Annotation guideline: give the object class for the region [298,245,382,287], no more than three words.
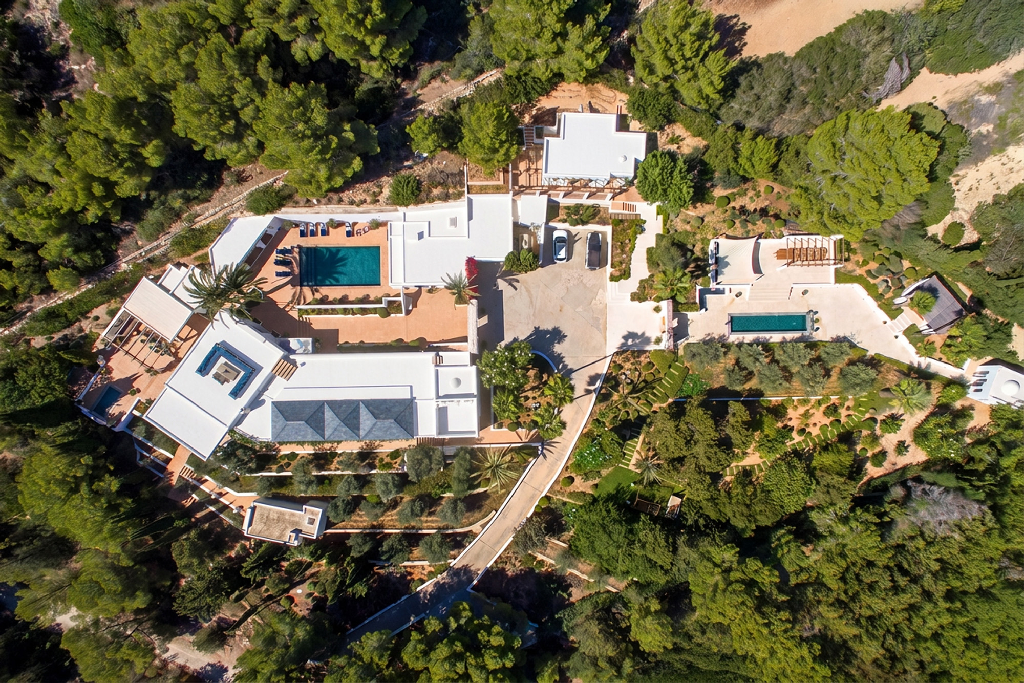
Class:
swimming pool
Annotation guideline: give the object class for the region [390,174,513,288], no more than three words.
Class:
building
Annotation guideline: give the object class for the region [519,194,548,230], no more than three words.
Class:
shed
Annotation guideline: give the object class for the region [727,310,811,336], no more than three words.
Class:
swimming pool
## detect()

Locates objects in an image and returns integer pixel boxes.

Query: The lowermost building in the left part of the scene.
[243,496,329,545]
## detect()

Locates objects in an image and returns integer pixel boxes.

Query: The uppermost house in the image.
[542,113,646,186]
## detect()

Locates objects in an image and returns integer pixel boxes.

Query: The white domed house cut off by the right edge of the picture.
[958,361,1024,420]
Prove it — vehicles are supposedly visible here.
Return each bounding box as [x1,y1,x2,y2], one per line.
[585,231,603,271]
[553,230,569,263]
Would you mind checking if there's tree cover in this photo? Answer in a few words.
Yes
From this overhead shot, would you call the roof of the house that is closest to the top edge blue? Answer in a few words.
No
